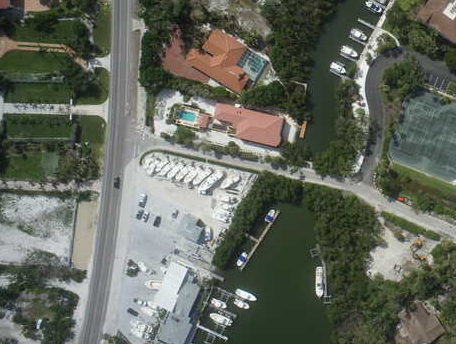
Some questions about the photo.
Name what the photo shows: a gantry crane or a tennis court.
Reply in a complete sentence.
There is a tennis court in the scene.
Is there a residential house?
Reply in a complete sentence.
Yes, the image includes a residential house.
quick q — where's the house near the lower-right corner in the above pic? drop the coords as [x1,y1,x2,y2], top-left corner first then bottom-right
[389,299,447,344]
